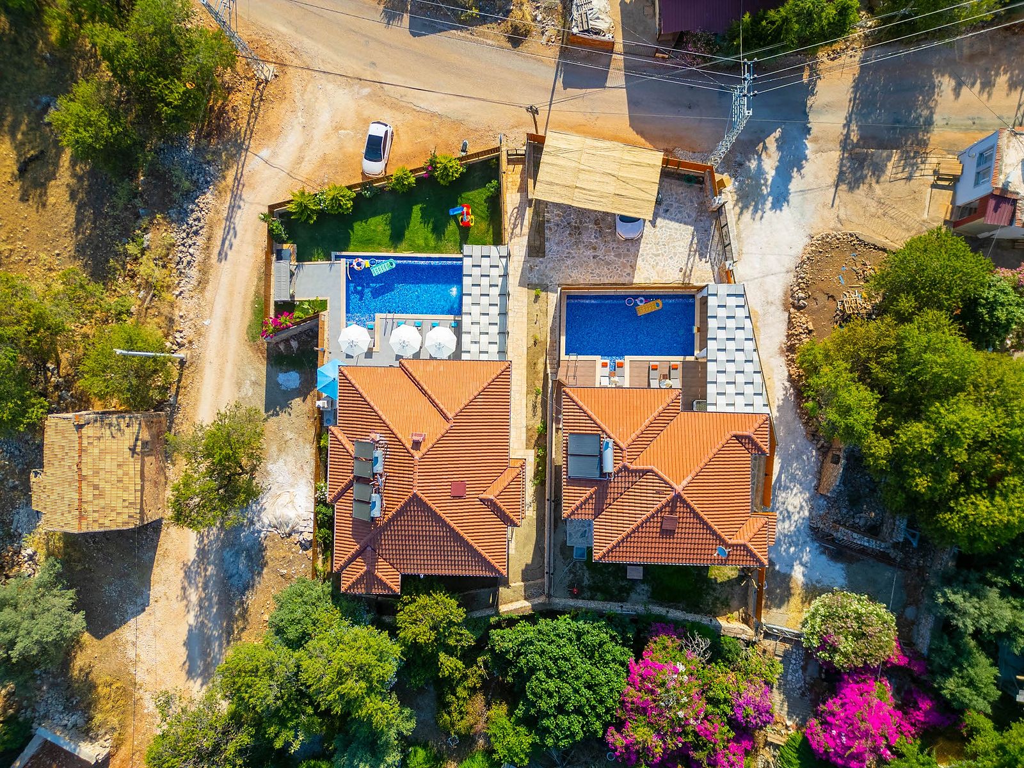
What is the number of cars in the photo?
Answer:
two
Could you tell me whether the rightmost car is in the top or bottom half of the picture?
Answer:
top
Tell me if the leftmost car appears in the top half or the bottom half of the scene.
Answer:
top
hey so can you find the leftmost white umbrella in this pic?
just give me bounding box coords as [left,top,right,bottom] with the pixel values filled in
[341,324,372,355]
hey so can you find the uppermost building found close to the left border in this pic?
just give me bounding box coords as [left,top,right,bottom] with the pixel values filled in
[29,415,167,534]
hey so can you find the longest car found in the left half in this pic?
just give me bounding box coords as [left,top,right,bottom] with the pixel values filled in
[357,118,390,179]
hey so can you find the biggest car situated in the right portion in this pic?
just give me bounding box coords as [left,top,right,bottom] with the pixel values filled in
[617,214,646,240]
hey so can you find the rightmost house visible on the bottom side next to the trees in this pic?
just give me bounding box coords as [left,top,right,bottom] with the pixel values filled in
[560,387,778,568]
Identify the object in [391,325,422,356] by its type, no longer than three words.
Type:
umbrella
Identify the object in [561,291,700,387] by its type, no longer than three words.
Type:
swimming pool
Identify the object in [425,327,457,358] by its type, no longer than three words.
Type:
umbrella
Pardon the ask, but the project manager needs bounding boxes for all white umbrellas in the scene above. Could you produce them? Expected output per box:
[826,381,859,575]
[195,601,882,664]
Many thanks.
[391,325,422,356]
[341,324,372,355]
[425,327,457,358]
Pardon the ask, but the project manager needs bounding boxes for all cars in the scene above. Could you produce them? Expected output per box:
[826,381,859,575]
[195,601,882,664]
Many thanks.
[617,214,646,240]
[357,118,390,179]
